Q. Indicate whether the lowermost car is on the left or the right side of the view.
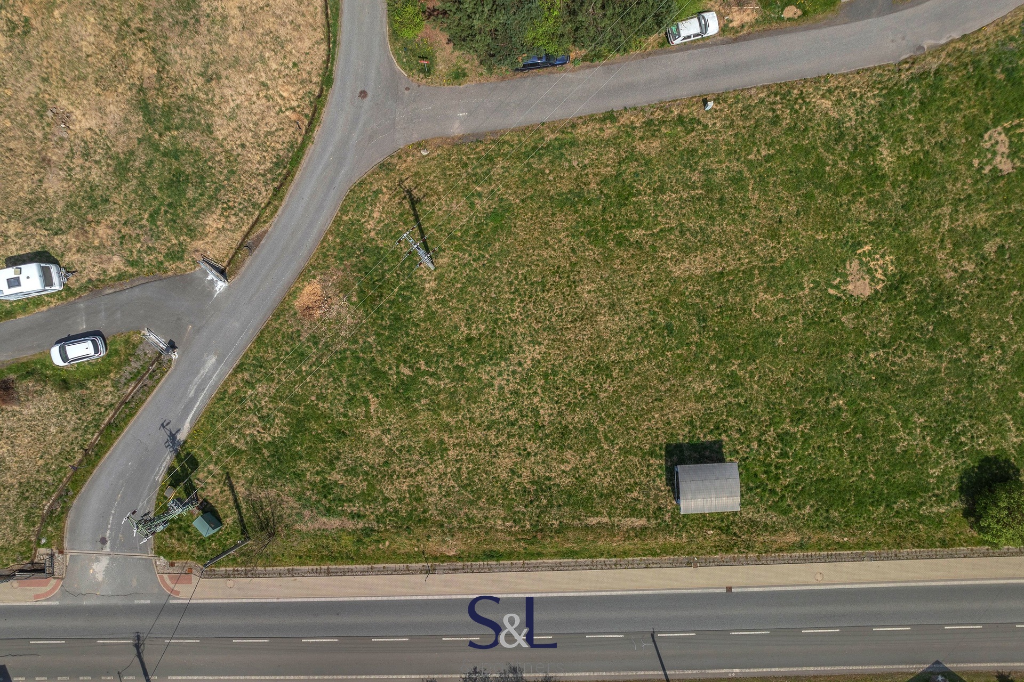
left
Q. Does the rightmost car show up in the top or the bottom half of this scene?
top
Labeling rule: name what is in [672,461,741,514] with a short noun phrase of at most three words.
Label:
shed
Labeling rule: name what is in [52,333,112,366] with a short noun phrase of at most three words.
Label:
car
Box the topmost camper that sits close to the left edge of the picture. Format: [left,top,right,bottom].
[0,263,80,302]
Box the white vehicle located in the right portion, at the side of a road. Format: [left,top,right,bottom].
[665,13,719,46]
